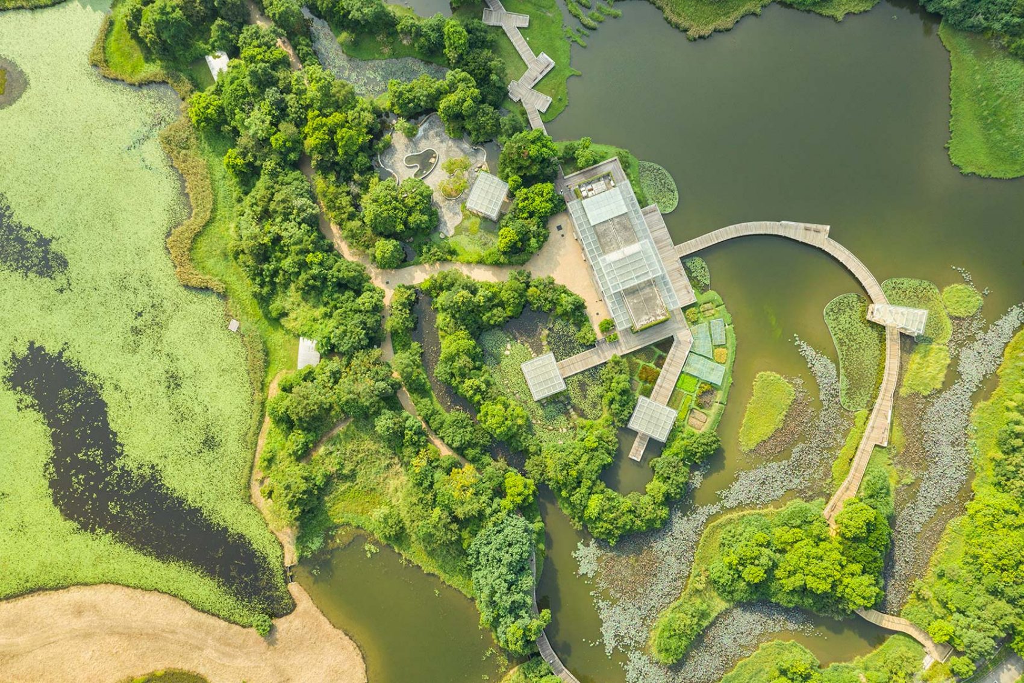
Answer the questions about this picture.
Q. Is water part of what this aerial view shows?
Yes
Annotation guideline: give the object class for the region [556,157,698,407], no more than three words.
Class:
building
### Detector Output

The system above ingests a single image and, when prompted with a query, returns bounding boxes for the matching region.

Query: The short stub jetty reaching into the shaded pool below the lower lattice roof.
[628,430,652,462]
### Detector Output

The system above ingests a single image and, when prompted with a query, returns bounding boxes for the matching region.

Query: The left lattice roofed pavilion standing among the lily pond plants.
[521,352,566,401]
